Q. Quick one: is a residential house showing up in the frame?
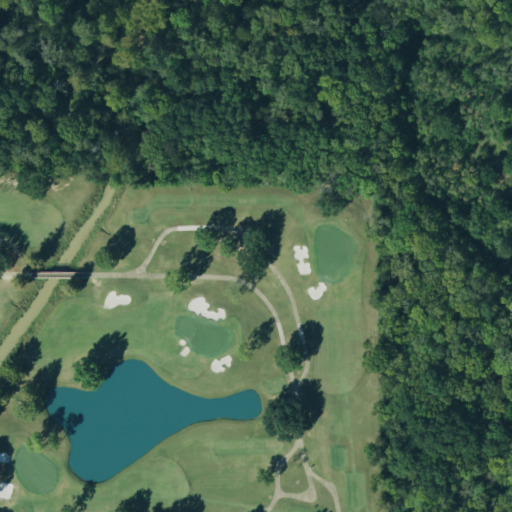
No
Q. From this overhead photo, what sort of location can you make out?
golf course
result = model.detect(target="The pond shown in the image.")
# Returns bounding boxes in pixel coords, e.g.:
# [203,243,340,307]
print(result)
[48,358,262,482]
